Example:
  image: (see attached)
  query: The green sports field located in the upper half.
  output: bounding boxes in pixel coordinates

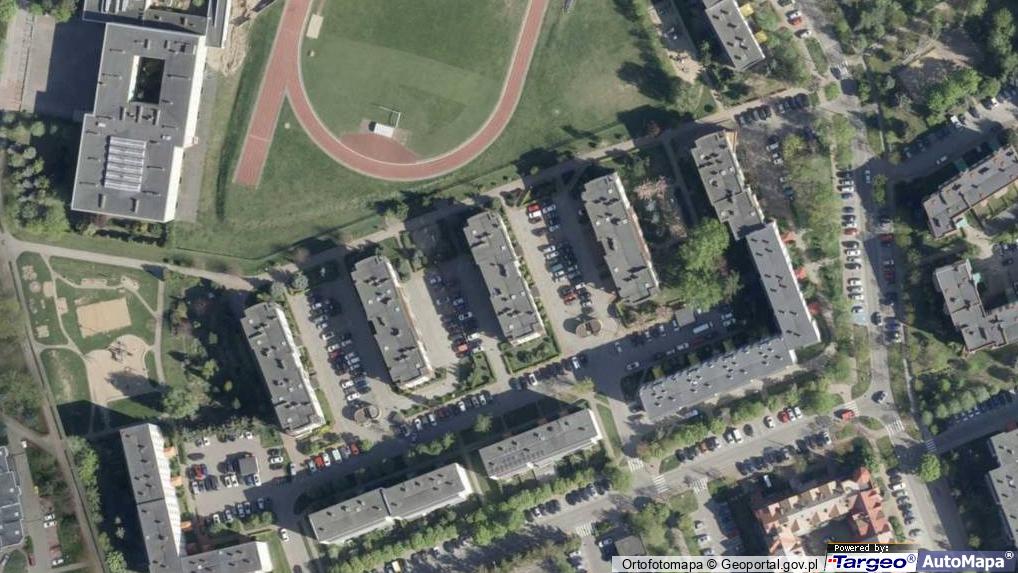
[301,0,532,161]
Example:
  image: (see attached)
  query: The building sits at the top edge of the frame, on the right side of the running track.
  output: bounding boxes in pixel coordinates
[702,0,766,76]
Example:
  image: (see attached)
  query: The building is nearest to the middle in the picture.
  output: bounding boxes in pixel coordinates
[463,210,546,343]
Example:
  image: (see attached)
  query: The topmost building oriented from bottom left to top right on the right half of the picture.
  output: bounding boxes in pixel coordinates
[923,145,1018,245]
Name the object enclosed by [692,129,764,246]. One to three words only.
building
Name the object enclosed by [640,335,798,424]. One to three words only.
building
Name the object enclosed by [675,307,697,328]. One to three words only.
shed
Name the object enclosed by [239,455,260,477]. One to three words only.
shed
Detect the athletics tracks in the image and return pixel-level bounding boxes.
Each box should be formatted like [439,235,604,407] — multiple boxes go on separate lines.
[234,0,553,188]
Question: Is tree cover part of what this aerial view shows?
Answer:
Yes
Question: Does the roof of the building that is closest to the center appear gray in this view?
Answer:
Yes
